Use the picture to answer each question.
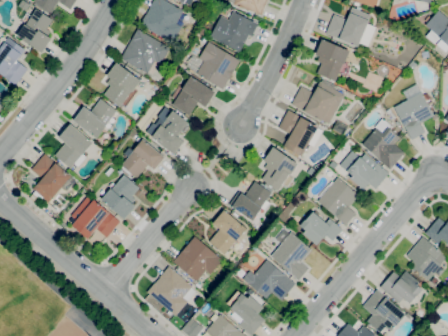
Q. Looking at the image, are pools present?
Yes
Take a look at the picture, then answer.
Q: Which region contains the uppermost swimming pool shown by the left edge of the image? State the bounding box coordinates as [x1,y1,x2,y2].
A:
[0,0,12,26]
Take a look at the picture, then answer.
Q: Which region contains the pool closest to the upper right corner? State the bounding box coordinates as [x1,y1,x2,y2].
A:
[395,2,417,18]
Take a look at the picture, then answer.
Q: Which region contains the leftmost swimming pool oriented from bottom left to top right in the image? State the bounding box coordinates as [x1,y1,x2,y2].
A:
[78,160,98,176]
